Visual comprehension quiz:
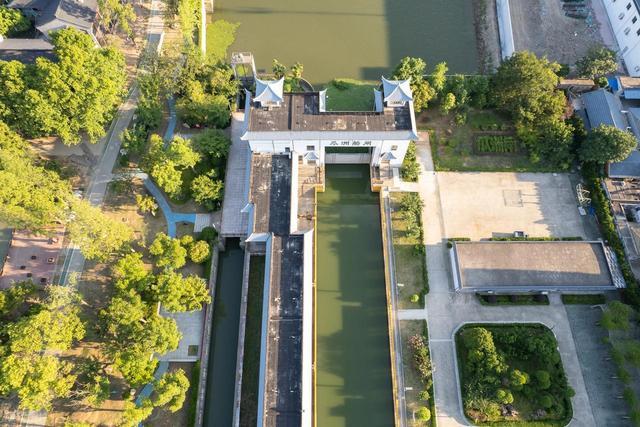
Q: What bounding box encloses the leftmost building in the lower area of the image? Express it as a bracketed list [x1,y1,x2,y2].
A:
[239,148,314,427]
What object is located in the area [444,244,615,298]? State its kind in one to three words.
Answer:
building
